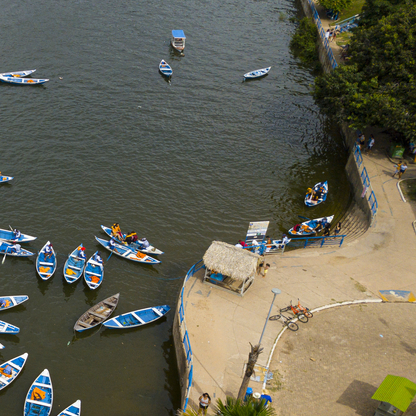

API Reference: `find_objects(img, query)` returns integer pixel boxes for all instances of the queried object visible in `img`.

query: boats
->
[74,293,120,333]
[302,181,329,208]
[0,353,28,390]
[100,225,164,256]
[159,60,173,79]
[24,368,54,416]
[170,23,186,56]
[0,320,21,336]
[102,306,171,329]
[0,296,30,311]
[85,252,104,292]
[0,228,37,243]
[244,67,272,81]
[0,175,13,184]
[0,70,36,78]
[0,240,34,258]
[288,215,334,236]
[64,244,87,286]
[56,400,80,416]
[95,236,162,266]
[37,243,57,282]
[0,77,49,85]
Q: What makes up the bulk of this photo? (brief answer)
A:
water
